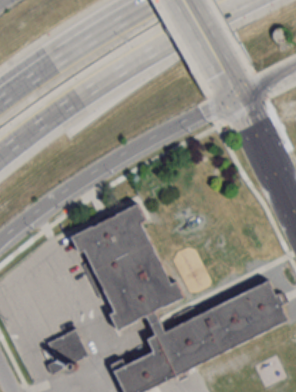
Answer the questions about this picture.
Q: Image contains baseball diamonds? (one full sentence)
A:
No, no baseball diamond can be seen from above.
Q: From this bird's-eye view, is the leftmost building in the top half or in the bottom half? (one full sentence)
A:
It is in the bottom half that the leftmost building appears.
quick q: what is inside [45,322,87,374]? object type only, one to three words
building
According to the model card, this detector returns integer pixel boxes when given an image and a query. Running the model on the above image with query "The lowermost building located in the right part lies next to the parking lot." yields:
[112,282,288,392]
